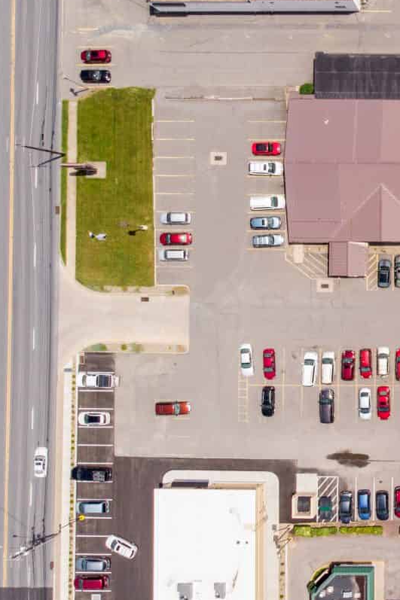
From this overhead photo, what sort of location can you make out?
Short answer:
parking lot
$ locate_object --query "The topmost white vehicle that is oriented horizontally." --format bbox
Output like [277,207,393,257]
[248,160,282,175]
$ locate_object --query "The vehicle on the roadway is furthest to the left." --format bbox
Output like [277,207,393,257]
[32,446,49,478]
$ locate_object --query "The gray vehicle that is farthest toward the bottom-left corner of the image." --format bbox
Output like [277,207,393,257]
[78,556,111,573]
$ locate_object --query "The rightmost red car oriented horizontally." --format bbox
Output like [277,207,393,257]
[252,141,281,155]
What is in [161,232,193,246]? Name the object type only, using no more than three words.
car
